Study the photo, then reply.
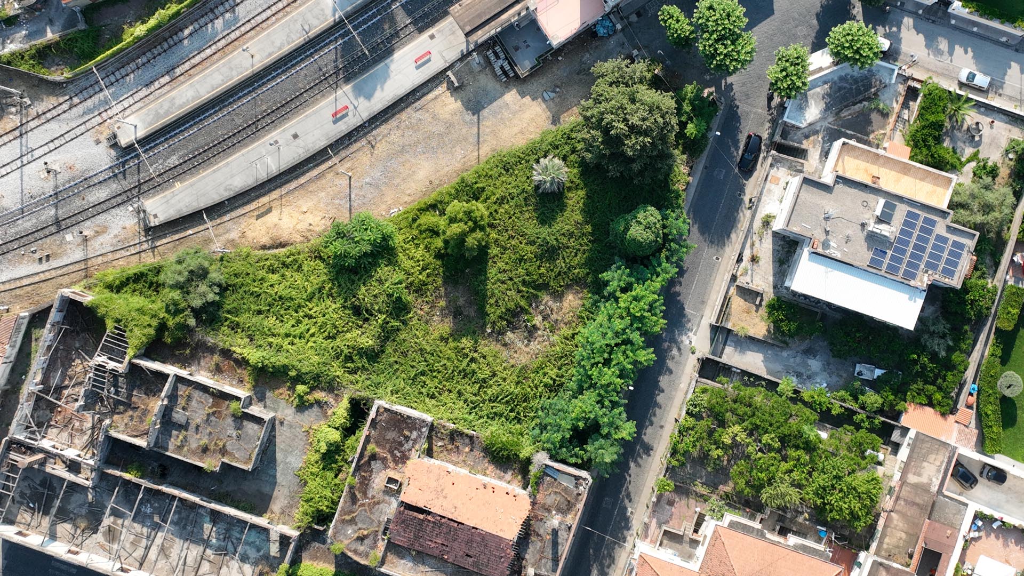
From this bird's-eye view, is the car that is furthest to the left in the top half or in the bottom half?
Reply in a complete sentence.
The top half of the photo is where the car that is furthest to the left is.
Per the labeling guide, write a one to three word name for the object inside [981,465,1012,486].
car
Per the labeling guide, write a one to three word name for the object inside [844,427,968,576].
building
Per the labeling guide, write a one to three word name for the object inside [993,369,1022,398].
umbrella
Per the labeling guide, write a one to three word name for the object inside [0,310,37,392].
shed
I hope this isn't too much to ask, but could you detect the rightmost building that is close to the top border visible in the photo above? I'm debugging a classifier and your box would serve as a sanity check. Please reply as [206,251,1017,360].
[526,0,612,56]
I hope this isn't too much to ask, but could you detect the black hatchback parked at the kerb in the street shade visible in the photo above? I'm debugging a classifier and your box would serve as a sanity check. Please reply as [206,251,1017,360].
[741,133,764,172]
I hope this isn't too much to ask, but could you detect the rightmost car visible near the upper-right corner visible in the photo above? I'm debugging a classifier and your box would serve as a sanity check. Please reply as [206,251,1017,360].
[958,67,994,89]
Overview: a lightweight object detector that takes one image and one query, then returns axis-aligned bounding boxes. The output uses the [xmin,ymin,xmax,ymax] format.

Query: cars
[880,36,894,54]
[958,67,994,89]
[741,133,764,172]
[981,465,1012,486]
[953,458,986,493]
